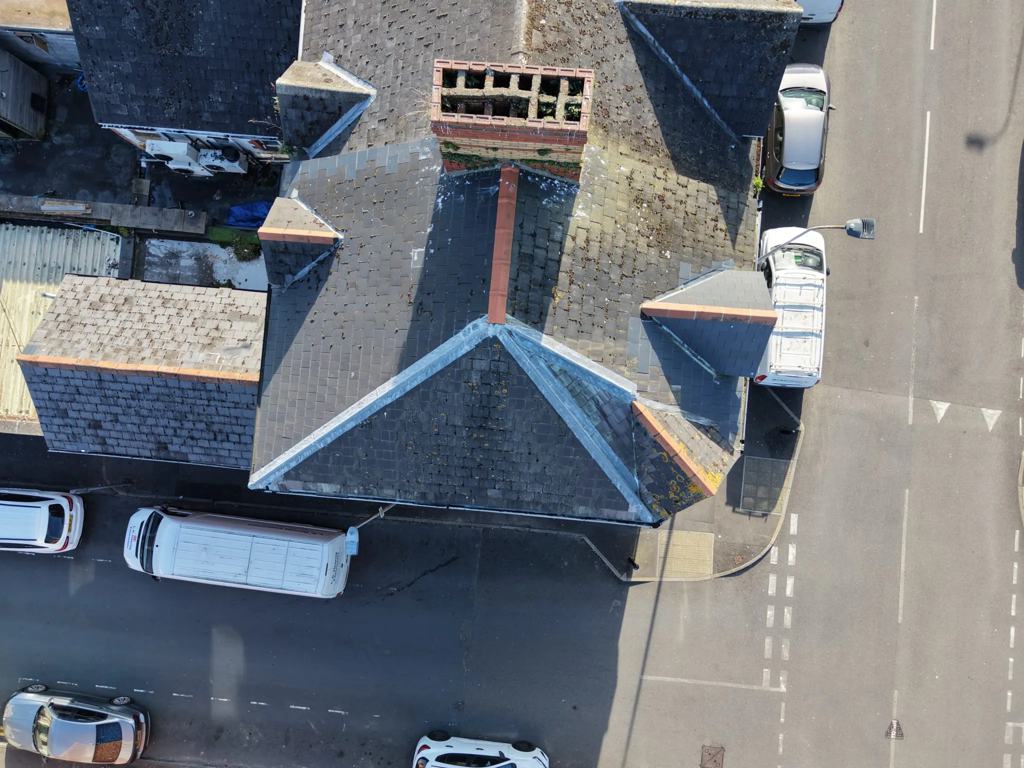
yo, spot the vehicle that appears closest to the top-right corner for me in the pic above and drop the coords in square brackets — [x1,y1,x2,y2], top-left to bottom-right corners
[799,0,854,26]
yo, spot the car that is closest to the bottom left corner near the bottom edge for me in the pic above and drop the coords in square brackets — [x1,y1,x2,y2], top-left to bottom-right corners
[0,684,156,768]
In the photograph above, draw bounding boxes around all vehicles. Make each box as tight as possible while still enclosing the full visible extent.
[751,227,833,390]
[761,65,837,198]
[799,0,854,26]
[0,480,86,552]
[122,497,351,602]
[0,684,156,768]
[413,728,551,768]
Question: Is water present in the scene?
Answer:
No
